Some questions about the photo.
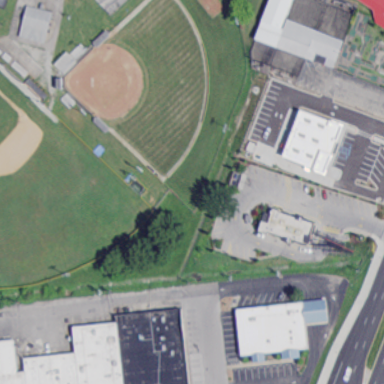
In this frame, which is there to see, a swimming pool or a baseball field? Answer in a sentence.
This aerial view contains a baseball field.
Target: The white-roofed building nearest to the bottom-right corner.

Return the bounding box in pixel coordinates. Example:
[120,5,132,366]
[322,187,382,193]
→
[236,299,330,363]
